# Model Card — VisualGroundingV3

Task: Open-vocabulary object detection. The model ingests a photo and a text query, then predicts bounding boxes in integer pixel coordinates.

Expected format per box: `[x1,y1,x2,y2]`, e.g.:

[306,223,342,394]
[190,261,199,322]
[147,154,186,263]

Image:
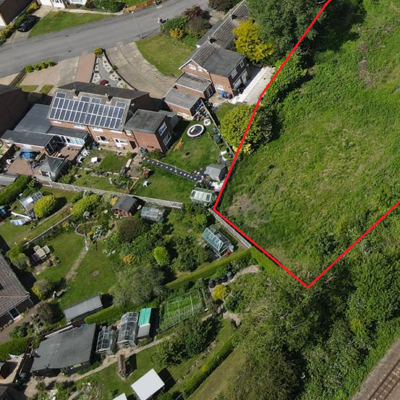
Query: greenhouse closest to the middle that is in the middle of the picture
[185,186,218,211]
